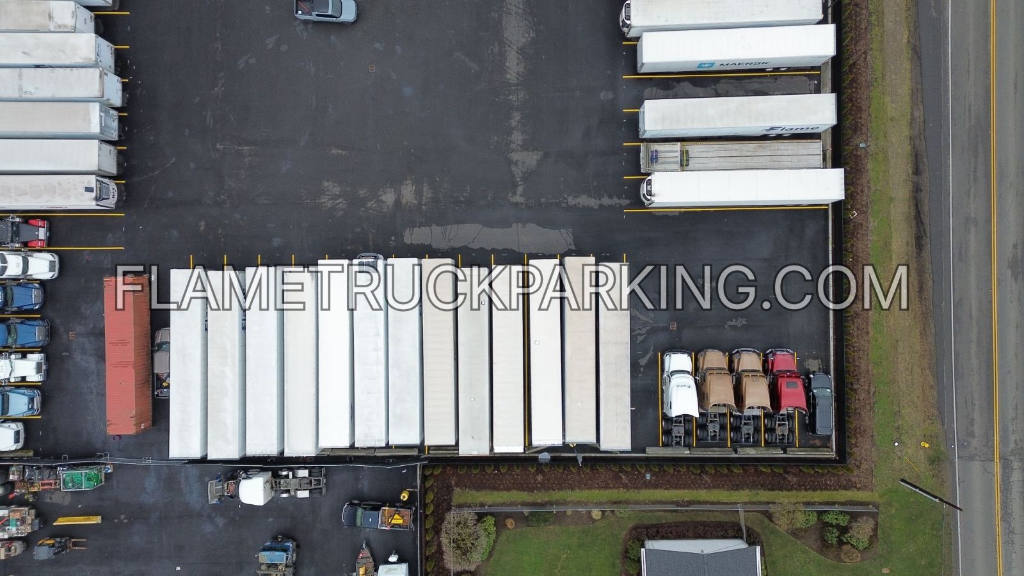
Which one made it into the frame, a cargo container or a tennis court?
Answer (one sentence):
Looking from above, you can make out a cargo container.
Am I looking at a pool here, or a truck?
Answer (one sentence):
Of the two, only a truck appears.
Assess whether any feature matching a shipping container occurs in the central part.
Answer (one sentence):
No, I can find no shipping container in the central part.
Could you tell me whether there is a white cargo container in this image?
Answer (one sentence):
No, the frame has no white cargo container in it.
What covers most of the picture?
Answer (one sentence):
The scene is dominated by paved ground.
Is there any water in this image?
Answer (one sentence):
No, no water is visible.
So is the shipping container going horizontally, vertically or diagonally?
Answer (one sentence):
What the image shows is the shipping container lying vertically.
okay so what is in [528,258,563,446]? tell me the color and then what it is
white trailer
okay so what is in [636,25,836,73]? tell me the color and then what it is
white trailer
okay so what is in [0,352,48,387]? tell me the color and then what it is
white truck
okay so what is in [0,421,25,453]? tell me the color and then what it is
white truck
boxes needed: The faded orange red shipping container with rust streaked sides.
[105,277,153,434]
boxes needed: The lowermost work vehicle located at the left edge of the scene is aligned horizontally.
[26,540,87,565]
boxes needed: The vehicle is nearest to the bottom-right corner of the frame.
[806,374,837,437]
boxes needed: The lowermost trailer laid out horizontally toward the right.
[641,169,845,207]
